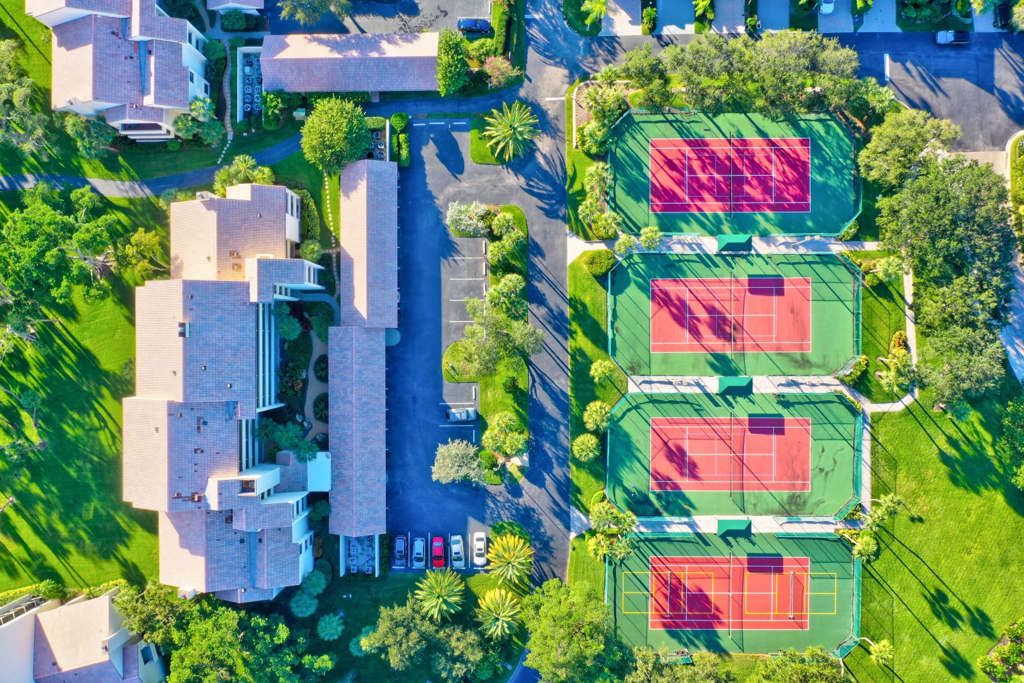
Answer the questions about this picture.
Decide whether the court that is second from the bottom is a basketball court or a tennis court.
tennis court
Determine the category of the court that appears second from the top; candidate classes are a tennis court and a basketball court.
tennis court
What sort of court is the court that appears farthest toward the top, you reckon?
tennis court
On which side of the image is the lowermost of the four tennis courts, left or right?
right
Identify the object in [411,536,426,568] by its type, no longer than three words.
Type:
car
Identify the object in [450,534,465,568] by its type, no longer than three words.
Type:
car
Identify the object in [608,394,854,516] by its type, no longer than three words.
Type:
tennis court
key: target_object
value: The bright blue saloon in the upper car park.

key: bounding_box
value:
[458,18,491,34]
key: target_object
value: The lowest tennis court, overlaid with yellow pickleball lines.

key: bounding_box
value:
[607,534,853,654]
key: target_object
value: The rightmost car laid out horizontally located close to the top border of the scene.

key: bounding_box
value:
[934,29,970,46]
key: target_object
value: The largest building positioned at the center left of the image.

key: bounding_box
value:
[123,184,331,603]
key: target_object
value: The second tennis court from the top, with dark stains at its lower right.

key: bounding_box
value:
[610,255,854,376]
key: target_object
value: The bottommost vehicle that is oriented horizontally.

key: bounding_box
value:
[446,408,475,422]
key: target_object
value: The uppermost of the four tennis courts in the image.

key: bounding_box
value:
[610,112,854,235]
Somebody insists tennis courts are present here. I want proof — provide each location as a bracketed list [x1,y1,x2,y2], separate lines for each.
[607,534,853,654]
[610,255,854,376]
[610,112,854,235]
[608,394,854,516]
